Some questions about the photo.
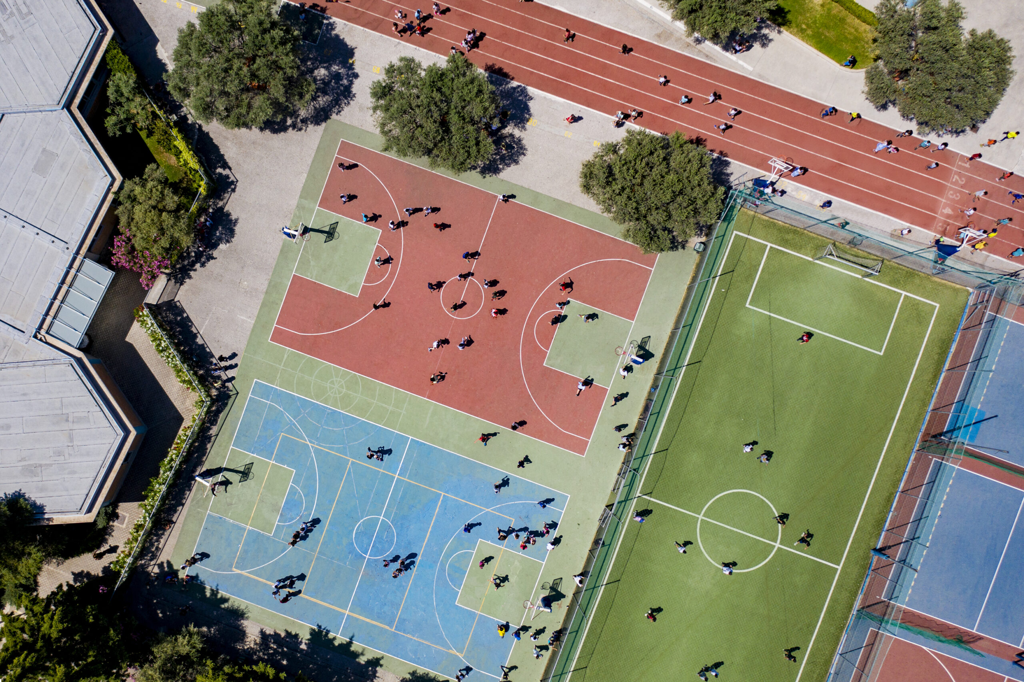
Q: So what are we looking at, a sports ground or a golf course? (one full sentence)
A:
The area seen from above is a sports ground.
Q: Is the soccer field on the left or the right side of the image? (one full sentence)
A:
The soccer field is on the right side of the image.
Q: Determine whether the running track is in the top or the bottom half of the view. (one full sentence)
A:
The running track sits in the top half of the picture.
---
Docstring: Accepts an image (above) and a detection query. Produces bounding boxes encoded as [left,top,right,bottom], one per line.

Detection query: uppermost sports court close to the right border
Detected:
[921,292,1024,481]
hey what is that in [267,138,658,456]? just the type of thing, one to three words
basketball court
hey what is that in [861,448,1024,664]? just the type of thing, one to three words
sports court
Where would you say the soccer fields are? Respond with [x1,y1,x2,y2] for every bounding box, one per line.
[541,205,971,682]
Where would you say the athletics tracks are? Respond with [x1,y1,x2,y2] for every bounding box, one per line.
[288,0,1024,268]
